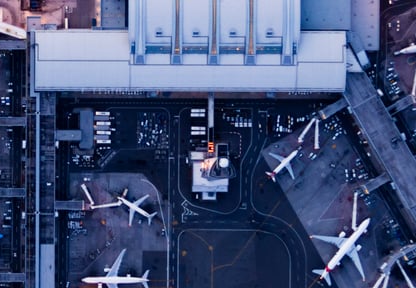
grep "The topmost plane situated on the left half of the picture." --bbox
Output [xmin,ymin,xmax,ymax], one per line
[119,193,153,226]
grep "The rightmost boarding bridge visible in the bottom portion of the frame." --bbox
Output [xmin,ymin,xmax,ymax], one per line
[397,259,414,288]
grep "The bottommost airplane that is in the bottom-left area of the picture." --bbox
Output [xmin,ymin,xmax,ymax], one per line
[81,248,146,288]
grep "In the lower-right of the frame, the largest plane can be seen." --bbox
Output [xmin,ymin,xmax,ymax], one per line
[312,218,370,281]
